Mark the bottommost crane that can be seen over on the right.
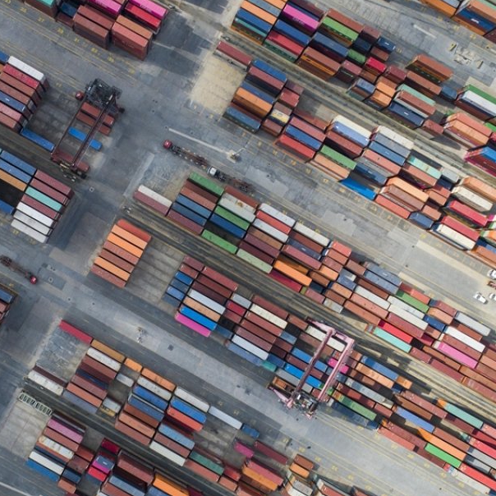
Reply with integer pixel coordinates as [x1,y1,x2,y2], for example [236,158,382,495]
[262,314,360,421]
